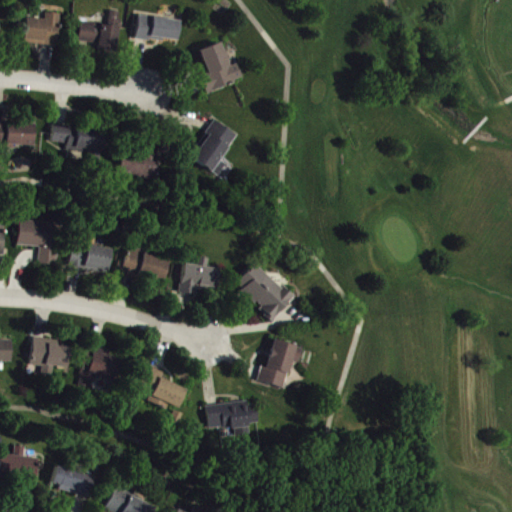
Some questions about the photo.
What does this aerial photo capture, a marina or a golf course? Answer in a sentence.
It's a golf course.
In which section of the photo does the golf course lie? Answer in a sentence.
The golf course is in the right part of the image.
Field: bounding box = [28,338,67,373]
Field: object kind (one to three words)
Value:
house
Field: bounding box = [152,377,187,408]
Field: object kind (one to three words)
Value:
house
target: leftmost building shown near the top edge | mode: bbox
[24,12,61,44]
